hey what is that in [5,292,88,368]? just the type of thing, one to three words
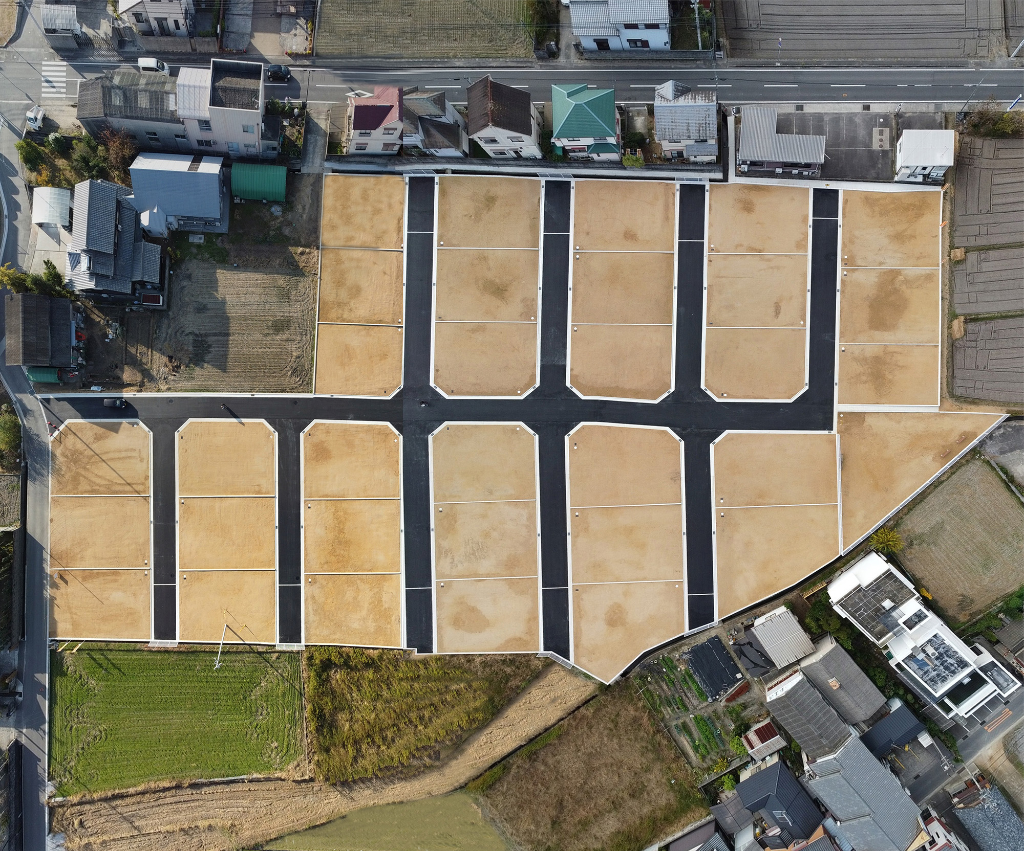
barn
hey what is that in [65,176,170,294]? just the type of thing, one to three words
house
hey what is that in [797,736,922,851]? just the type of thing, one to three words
house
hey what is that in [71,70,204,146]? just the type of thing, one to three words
building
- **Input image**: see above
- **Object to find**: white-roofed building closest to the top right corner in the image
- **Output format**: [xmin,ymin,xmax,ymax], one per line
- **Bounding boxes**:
[883,128,961,178]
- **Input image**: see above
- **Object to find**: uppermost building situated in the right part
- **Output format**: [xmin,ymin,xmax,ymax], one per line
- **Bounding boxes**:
[570,0,671,49]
